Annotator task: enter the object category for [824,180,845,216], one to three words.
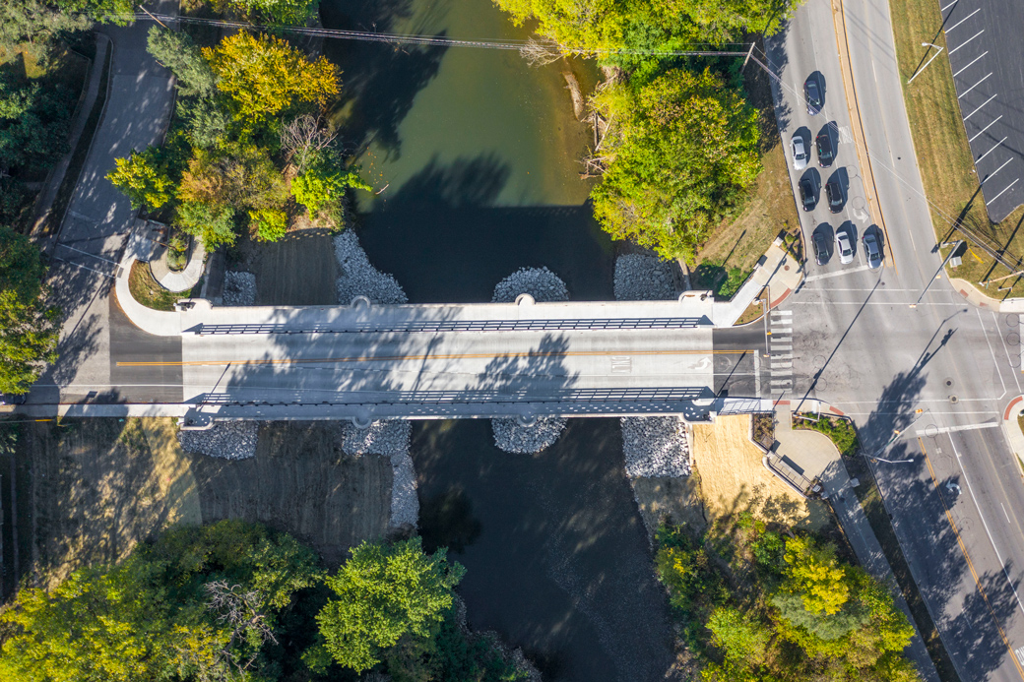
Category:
car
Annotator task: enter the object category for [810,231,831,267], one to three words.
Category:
car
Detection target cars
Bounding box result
[862,233,883,270]
[814,133,835,169]
[788,134,808,171]
[824,180,845,216]
[803,80,823,116]
[797,176,819,213]
[0,389,28,406]
[810,231,831,267]
[834,229,855,265]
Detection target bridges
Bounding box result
[175,287,719,433]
